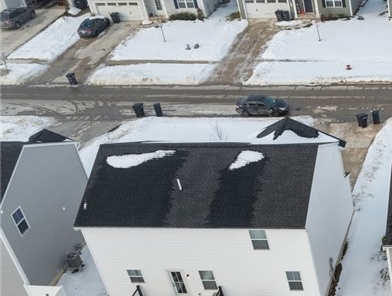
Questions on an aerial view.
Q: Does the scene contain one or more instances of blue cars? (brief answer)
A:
No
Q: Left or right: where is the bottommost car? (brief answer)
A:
right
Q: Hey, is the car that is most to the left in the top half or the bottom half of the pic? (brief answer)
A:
top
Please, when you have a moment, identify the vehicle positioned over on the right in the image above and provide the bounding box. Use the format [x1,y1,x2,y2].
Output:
[234,91,296,115]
